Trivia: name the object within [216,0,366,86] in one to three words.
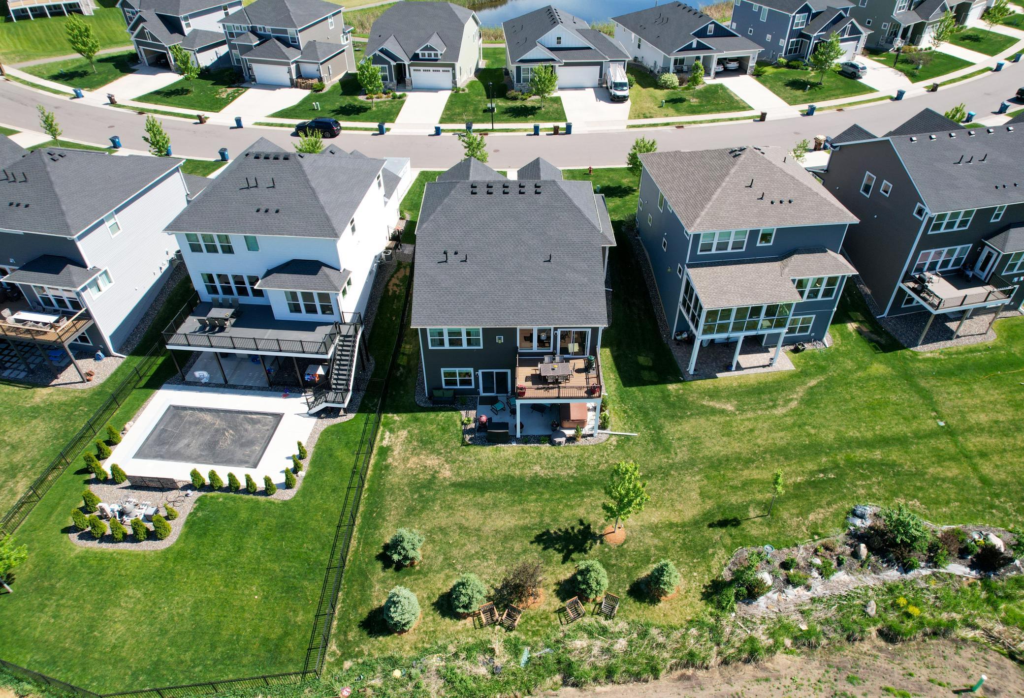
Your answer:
house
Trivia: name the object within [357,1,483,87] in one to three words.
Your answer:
house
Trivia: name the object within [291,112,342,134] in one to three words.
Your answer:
car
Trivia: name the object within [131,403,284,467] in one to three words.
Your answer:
swimming pool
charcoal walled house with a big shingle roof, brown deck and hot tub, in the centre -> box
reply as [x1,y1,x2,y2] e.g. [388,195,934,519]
[410,148,637,436]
